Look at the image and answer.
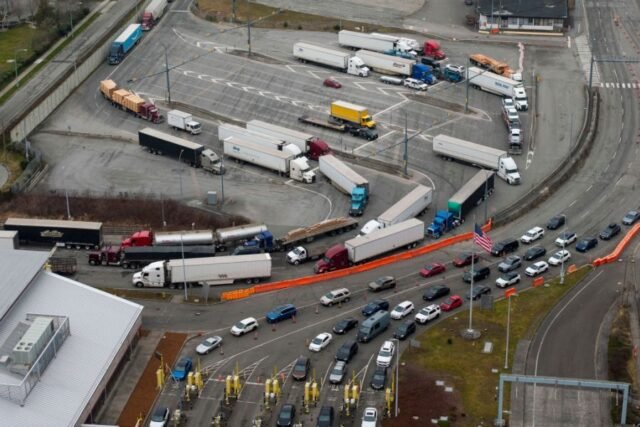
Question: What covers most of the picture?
paved ground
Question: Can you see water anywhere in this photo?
No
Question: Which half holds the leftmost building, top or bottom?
bottom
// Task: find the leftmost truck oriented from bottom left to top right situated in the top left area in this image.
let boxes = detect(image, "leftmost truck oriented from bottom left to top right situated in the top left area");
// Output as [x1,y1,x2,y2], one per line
[109,25,140,63]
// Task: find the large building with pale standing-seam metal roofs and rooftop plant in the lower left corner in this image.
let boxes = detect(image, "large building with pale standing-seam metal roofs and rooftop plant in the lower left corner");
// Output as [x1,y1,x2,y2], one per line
[0,249,148,427]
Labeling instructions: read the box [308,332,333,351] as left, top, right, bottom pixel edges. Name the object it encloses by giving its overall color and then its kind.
white car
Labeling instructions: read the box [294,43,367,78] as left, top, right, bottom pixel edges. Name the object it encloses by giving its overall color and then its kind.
white truck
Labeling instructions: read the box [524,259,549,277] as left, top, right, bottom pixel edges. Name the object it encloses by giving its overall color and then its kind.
white car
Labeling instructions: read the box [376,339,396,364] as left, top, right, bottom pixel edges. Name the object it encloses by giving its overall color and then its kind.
white vehicle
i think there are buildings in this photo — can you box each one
[0,249,148,427]
[472,0,562,31]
